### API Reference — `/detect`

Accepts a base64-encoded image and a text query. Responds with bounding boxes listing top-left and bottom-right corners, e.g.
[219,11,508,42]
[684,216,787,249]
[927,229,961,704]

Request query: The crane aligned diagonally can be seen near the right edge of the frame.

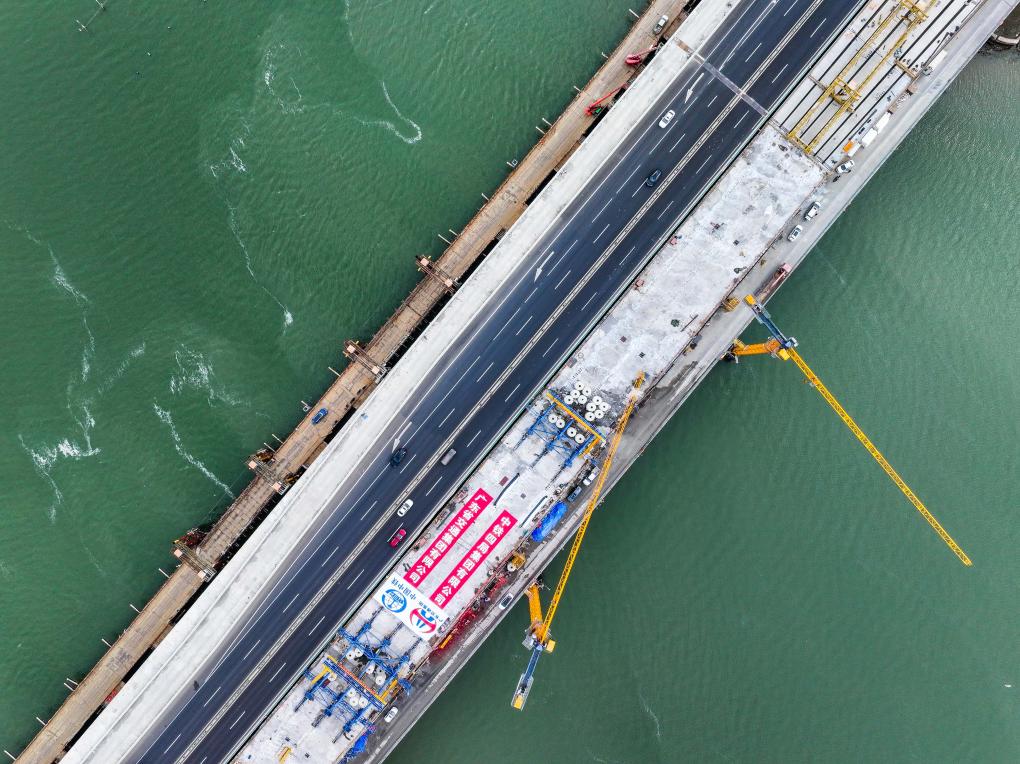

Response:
[722,293,974,566]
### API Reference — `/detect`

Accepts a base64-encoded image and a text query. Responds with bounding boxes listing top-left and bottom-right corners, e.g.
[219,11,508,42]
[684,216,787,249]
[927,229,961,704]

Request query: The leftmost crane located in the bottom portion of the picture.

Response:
[512,377,642,707]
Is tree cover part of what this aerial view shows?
No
